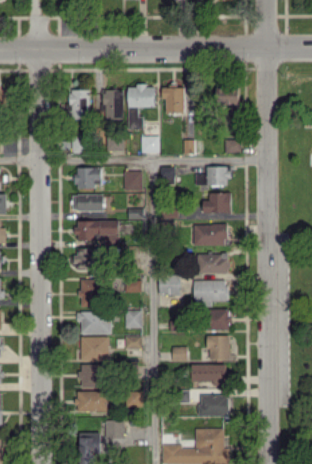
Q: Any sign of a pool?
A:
No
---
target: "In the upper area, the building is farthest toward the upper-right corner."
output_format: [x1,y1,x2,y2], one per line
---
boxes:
[216,84,240,106]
